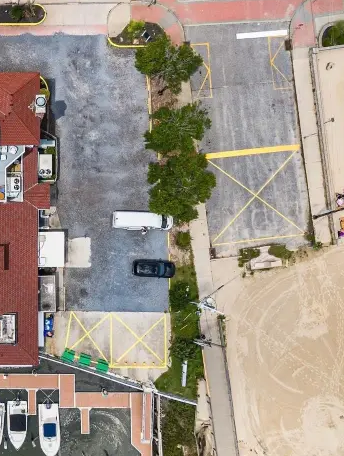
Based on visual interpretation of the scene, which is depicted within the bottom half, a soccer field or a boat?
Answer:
boat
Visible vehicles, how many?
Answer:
2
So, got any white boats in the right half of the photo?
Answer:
No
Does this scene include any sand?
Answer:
Yes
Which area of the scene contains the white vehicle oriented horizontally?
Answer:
center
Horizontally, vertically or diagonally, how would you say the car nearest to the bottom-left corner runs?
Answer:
horizontally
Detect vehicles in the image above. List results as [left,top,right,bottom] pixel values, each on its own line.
[111,211,173,232]
[131,258,173,278]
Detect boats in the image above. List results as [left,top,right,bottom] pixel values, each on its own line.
[38,393,60,456]
[7,392,28,451]
[0,401,5,446]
